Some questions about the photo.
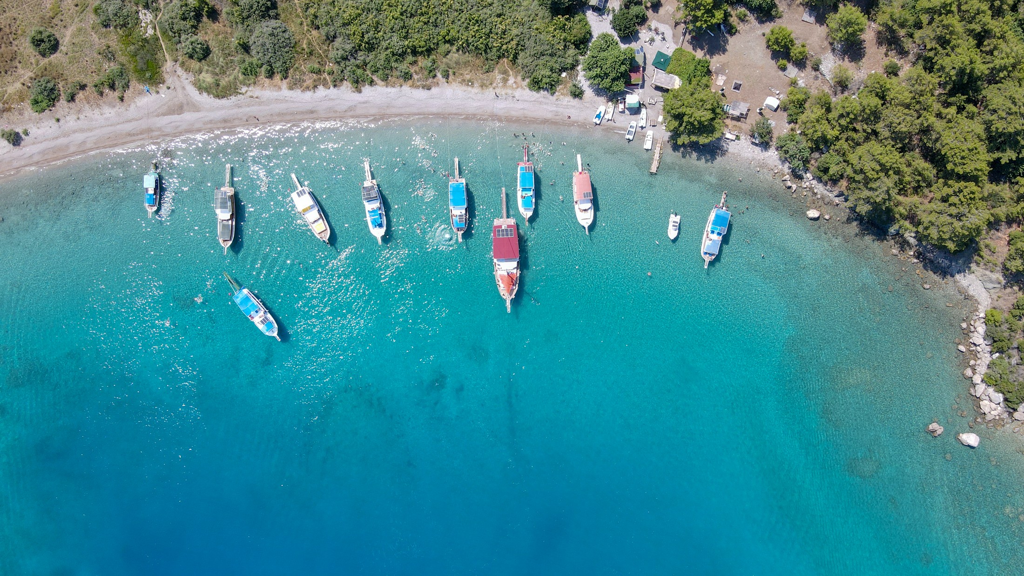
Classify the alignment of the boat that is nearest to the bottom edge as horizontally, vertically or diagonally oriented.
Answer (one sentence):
The boat that is nearest to the bottom edge has been laid out diagonally relative to the frame.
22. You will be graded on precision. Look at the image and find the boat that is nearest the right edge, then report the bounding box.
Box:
[702,191,731,268]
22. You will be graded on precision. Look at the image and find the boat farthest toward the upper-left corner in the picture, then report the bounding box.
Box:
[143,163,162,218]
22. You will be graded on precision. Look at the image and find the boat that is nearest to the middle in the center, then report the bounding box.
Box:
[492,187,521,312]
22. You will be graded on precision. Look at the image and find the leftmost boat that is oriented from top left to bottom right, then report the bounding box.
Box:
[224,271,281,341]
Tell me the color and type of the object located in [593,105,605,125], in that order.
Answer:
white boat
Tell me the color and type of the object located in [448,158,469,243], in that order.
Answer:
blue boat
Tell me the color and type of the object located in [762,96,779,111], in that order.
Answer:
white camper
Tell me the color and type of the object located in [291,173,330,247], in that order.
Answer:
white boat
